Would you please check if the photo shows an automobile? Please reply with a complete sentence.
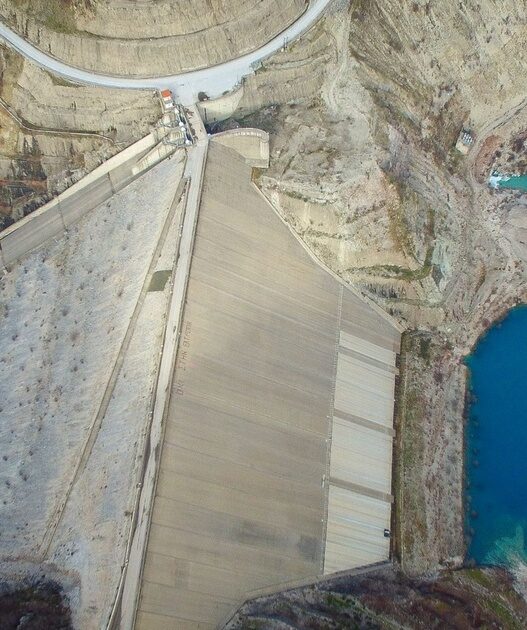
No, there's no automobile here.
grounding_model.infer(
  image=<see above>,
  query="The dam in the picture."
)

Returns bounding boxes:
[0,138,406,630]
